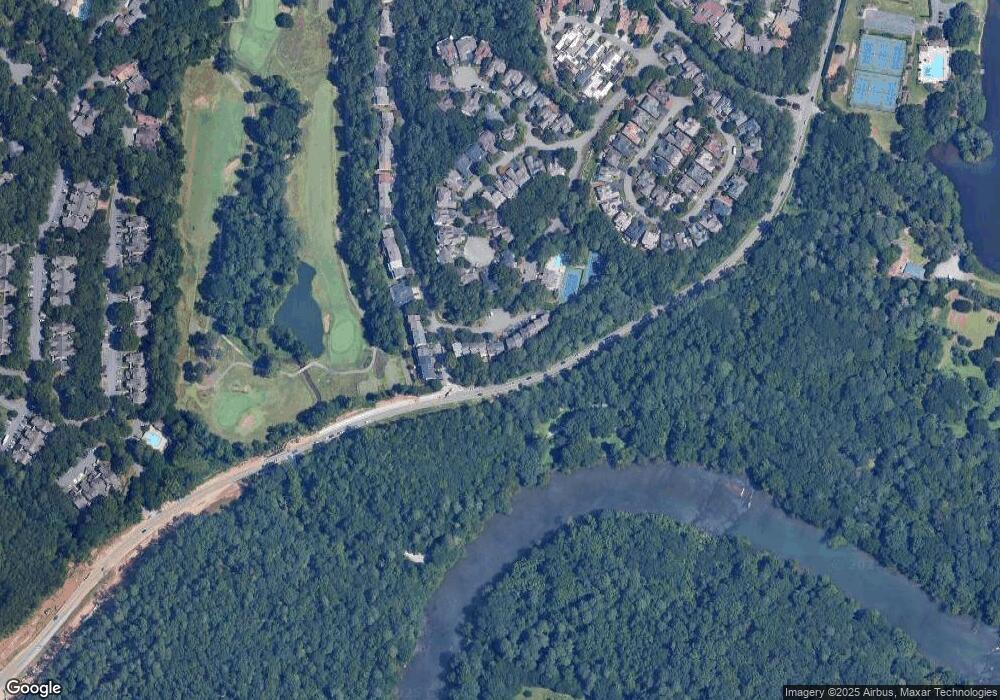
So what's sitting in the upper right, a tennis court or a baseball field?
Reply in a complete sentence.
Visible in the upper right is a tennis court.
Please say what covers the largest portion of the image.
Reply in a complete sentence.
What you mostly see from above here is trees.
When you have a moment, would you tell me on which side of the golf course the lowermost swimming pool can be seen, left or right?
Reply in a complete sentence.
In the image, the lowermost swimming pool sits on the left side of the golf course.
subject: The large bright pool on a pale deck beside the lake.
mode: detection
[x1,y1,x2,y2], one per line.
[919,46,949,83]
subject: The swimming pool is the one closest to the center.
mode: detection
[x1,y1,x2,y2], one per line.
[544,254,567,290]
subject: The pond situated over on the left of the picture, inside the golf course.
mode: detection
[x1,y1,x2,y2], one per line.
[272,262,324,357]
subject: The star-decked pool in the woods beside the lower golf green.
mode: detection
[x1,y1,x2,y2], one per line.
[142,425,166,452]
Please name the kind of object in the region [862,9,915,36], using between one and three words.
sports court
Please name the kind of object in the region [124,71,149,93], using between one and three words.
house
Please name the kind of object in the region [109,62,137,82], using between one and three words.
house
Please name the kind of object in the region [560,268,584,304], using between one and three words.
tennis court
